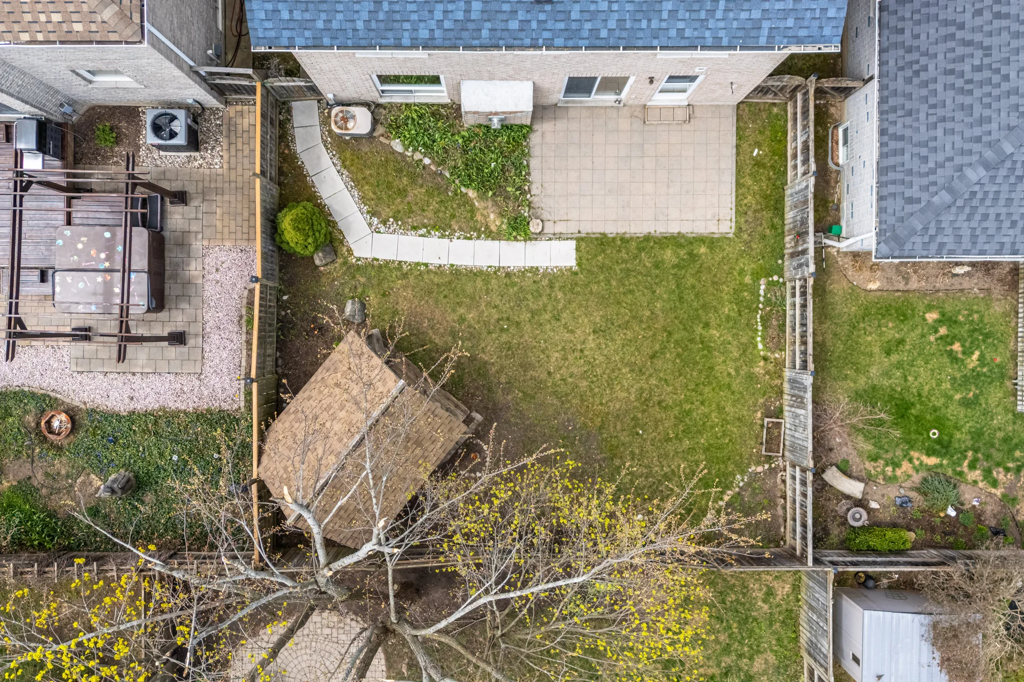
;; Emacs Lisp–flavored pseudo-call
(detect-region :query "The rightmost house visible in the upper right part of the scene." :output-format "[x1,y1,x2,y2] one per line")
[843,0,1024,260]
